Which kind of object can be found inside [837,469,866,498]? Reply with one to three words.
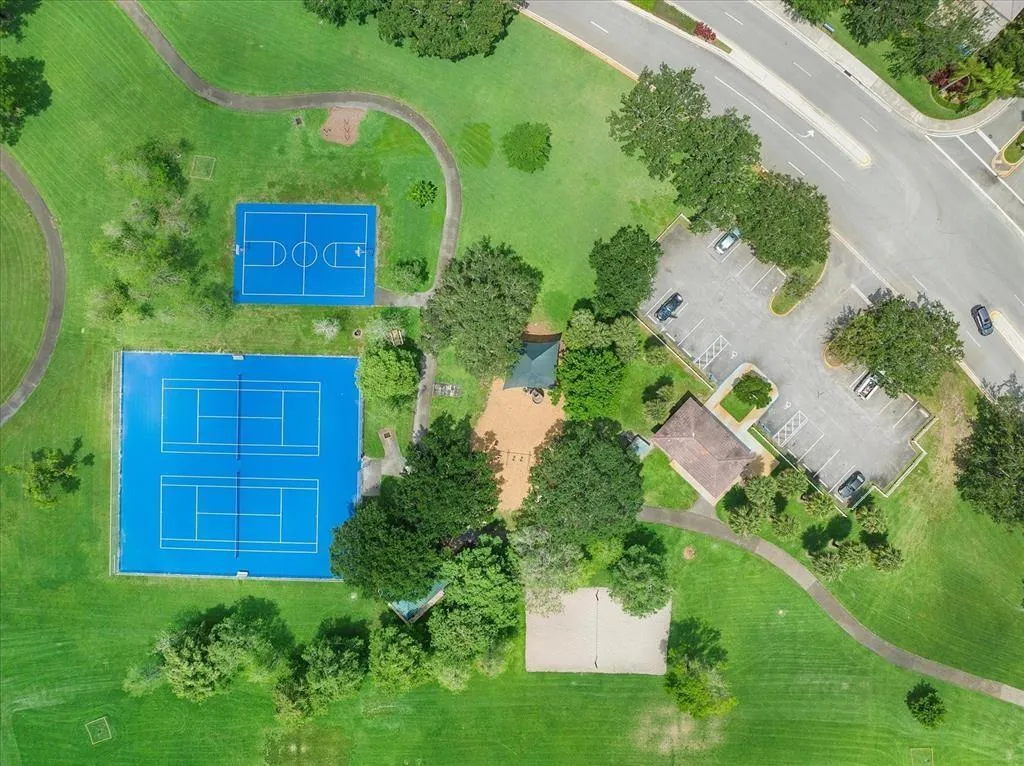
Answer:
car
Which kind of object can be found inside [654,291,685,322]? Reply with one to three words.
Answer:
car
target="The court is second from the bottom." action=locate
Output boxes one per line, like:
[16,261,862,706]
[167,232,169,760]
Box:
[119,463,358,579]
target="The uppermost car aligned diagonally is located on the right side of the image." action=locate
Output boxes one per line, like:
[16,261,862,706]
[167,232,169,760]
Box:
[714,227,740,255]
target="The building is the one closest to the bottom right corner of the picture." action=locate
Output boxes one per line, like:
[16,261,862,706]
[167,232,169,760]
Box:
[653,397,756,502]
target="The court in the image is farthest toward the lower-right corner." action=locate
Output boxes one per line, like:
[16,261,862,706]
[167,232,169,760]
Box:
[524,587,674,677]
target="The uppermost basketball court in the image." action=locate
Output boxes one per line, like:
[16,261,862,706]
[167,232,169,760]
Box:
[234,203,376,305]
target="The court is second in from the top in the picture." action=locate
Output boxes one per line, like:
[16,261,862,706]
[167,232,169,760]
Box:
[120,352,360,467]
